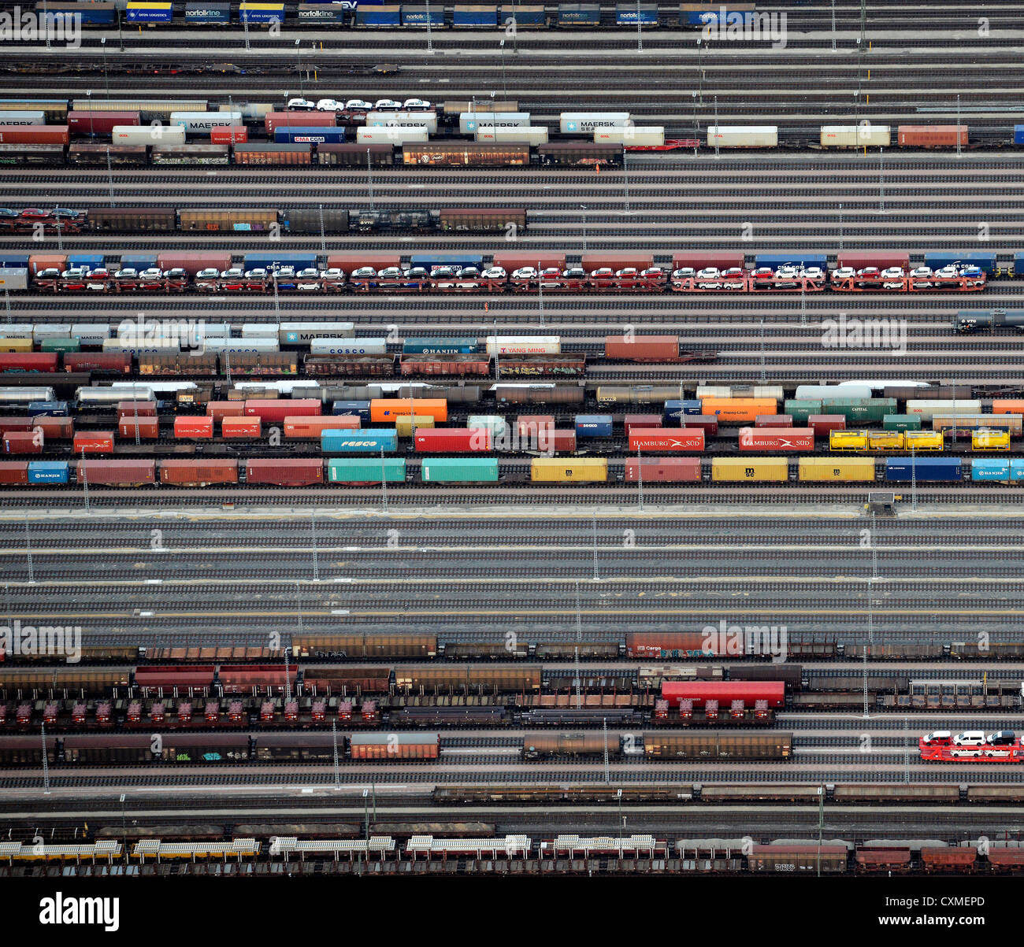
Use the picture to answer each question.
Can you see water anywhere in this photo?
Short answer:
No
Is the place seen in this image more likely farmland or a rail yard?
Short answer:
rail yard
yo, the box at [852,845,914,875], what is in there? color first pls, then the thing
red rail car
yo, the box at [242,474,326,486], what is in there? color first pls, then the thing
red rail car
